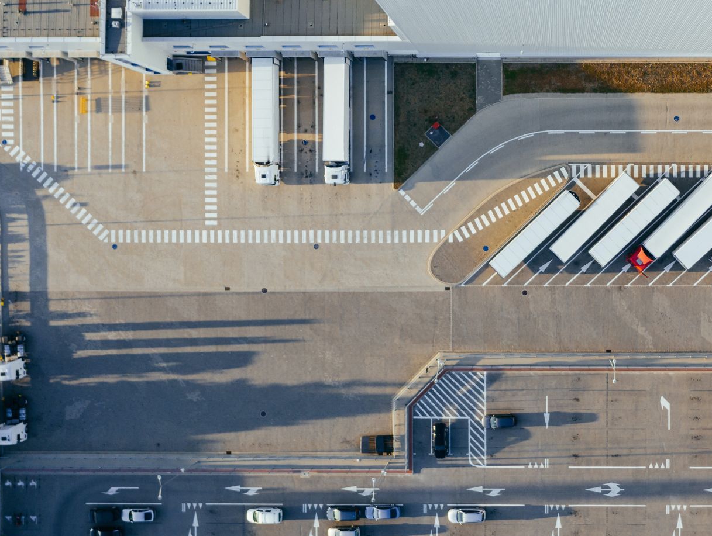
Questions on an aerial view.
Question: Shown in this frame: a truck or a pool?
truck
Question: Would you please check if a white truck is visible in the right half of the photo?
Yes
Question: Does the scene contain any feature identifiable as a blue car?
Yes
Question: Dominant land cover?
paved ground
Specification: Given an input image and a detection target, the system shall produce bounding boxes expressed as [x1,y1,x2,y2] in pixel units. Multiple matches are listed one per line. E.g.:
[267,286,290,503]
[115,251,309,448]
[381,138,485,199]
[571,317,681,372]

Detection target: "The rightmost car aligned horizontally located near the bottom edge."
[448,506,486,524]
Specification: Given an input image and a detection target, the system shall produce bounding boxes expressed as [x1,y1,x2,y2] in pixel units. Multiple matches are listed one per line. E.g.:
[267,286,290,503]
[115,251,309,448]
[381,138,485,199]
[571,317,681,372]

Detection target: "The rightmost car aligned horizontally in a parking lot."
[484,412,517,429]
